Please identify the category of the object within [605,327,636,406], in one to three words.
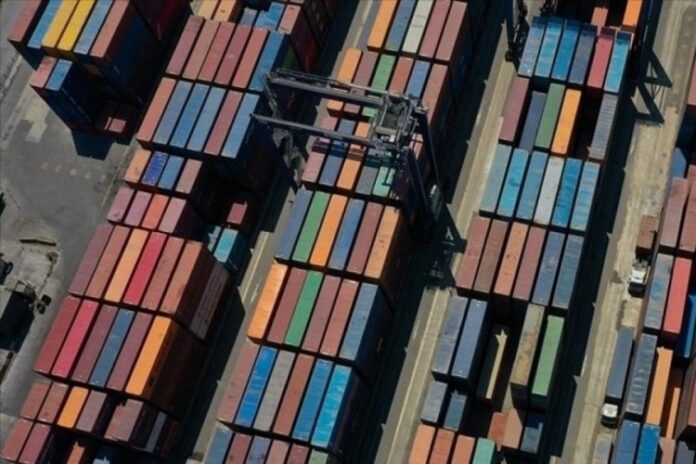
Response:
shipping container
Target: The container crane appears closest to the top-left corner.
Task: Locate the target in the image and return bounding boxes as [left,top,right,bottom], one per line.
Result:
[248,71,442,234]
